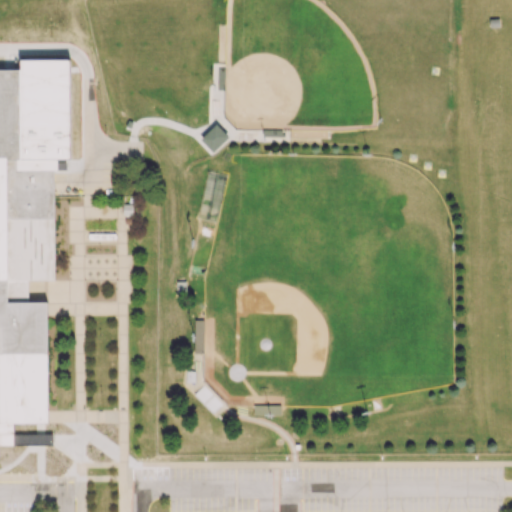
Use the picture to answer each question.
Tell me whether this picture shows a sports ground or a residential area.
sports ground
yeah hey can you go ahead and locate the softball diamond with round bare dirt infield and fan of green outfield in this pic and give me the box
[219,0,378,142]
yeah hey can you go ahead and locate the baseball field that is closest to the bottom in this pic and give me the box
[204,152,455,408]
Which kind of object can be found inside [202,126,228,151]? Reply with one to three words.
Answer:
building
